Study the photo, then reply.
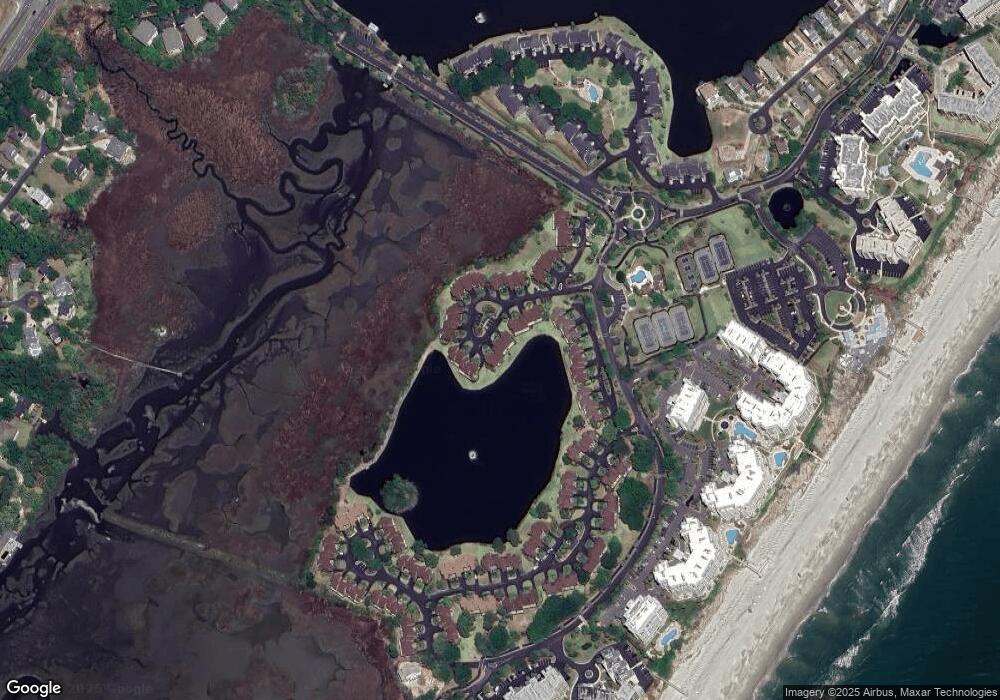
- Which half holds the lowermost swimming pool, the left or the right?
right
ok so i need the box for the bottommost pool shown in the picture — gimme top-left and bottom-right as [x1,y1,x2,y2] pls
[655,624,681,655]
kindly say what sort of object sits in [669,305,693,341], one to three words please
tennis court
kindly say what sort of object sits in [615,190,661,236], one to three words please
roundabout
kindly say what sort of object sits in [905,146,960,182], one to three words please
swimming pool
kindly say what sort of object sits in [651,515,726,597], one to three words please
building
